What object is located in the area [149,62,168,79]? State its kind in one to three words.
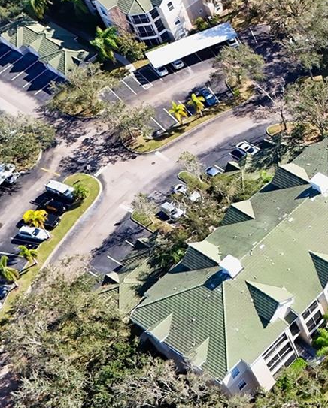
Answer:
car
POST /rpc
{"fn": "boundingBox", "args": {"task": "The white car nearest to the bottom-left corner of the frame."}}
[16,226,46,243]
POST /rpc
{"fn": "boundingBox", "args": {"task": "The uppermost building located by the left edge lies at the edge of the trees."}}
[0,6,96,76]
